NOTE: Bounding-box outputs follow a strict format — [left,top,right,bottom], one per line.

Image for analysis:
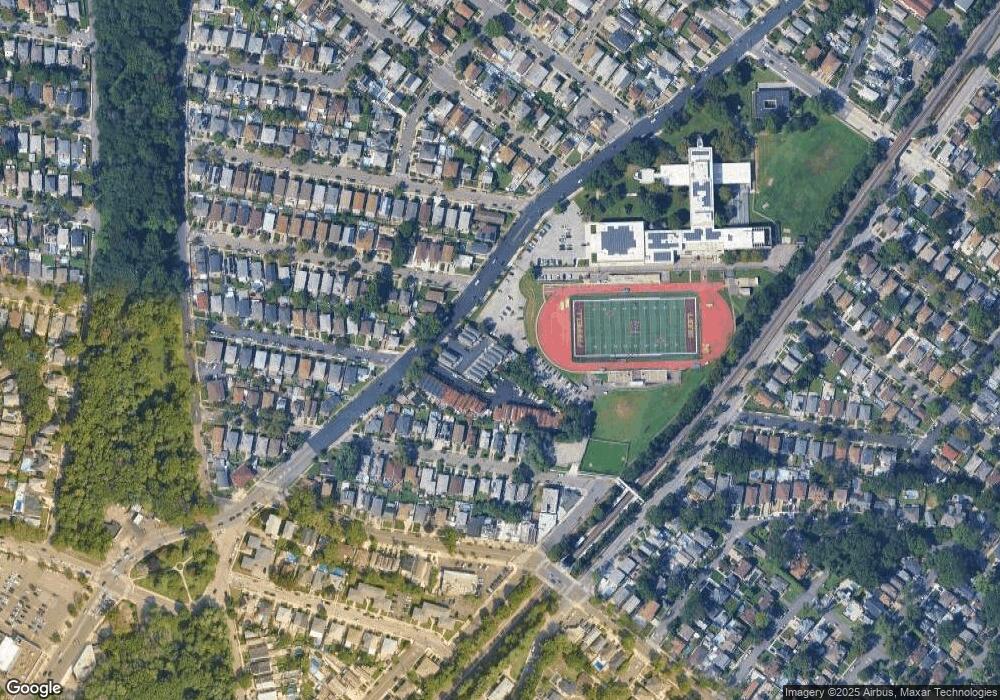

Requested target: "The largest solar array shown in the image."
[602,226,637,254]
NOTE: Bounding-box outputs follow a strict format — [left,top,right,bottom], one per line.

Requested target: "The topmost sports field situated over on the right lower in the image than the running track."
[590,380,698,448]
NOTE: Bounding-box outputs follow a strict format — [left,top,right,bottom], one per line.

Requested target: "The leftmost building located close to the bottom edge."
[0,629,42,682]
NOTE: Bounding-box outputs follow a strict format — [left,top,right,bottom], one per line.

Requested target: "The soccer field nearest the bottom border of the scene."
[581,441,630,474]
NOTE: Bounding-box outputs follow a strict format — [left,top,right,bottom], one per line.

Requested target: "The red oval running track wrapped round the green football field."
[536,280,734,374]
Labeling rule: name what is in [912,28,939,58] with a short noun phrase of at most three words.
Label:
building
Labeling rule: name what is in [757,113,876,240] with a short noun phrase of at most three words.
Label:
sports field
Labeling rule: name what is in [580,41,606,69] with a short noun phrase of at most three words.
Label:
house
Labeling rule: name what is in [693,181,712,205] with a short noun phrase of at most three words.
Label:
solar array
